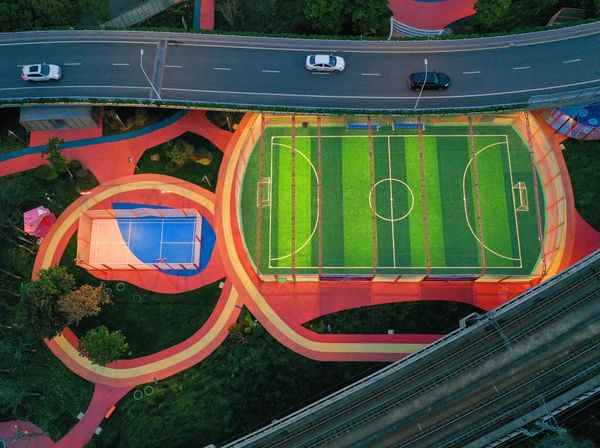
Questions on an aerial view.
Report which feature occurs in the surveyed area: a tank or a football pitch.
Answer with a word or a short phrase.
football pitch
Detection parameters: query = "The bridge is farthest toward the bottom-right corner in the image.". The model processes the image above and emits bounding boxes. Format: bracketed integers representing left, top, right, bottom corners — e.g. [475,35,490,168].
[220,247,600,448]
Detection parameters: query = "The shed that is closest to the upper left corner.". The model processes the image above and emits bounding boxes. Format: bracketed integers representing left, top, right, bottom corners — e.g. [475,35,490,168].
[20,107,98,131]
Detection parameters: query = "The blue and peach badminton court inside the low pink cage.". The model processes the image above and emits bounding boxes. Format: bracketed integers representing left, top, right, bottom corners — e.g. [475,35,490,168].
[89,203,212,276]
